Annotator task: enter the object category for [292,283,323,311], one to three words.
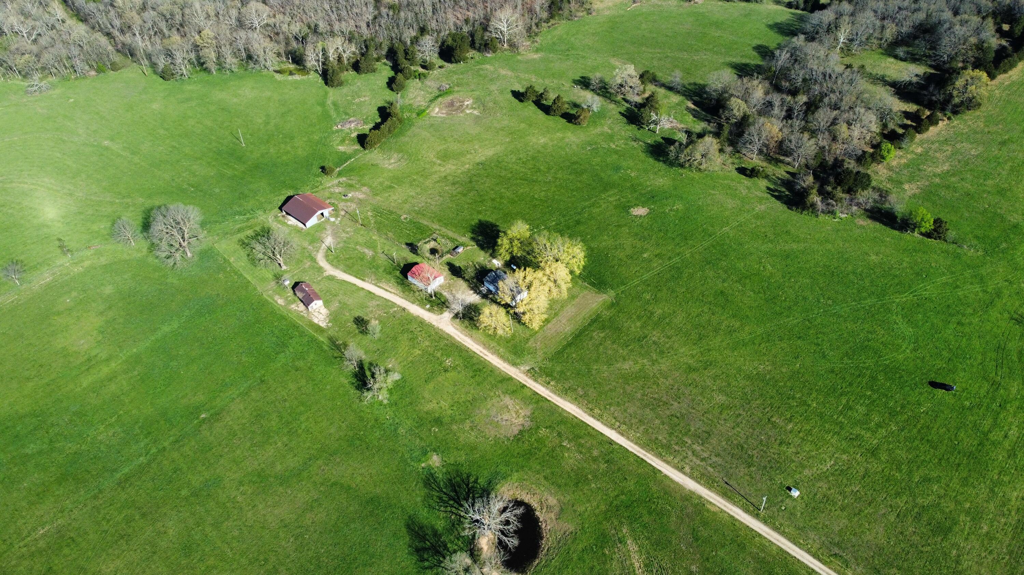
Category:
shed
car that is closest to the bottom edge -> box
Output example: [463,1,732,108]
[934,381,955,393]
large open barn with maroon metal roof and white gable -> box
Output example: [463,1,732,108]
[277,194,335,228]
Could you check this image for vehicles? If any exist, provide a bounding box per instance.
[489,259,502,267]
[934,381,955,393]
